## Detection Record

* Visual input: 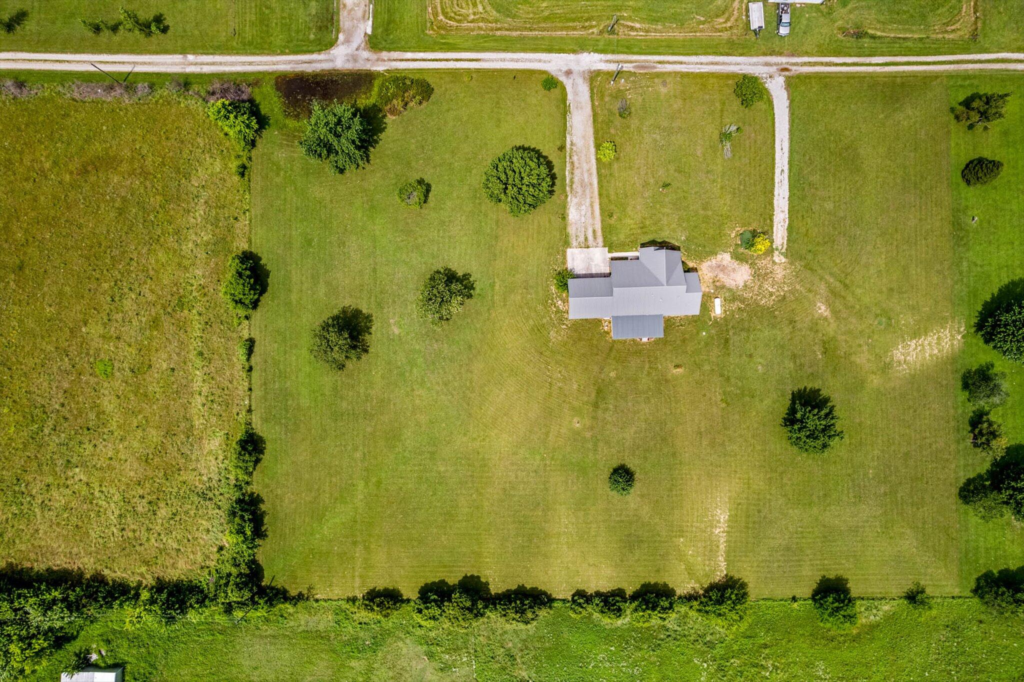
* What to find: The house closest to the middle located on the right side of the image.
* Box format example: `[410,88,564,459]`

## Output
[568,246,702,342]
